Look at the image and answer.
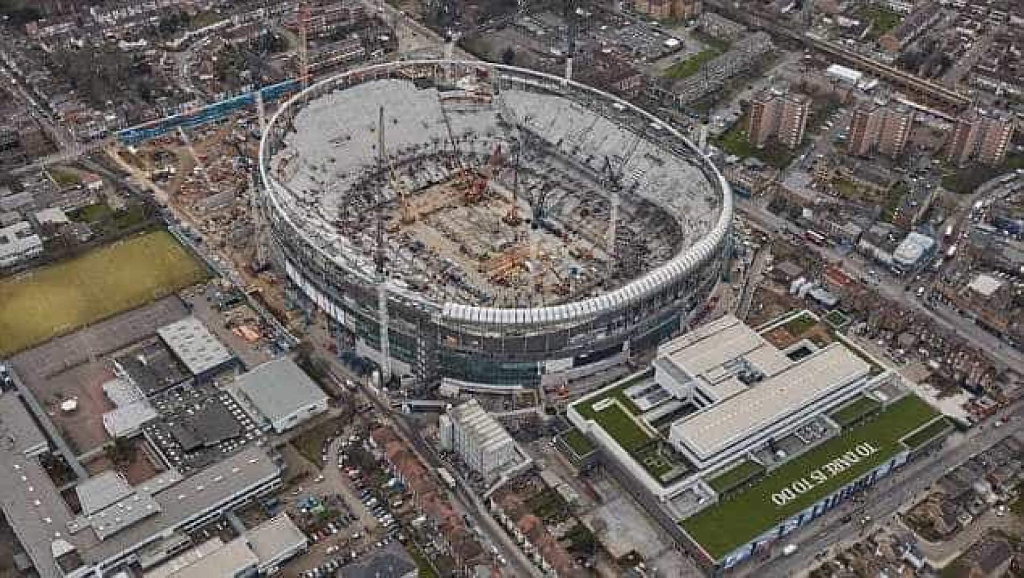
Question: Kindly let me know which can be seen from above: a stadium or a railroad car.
stadium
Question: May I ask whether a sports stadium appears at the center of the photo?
Yes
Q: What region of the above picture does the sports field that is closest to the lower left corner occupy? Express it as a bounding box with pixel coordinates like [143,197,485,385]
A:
[0,228,206,355]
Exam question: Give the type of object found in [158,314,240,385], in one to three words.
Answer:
building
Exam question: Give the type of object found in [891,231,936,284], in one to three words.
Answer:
building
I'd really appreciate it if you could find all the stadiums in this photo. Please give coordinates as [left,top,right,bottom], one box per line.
[257,59,734,396]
